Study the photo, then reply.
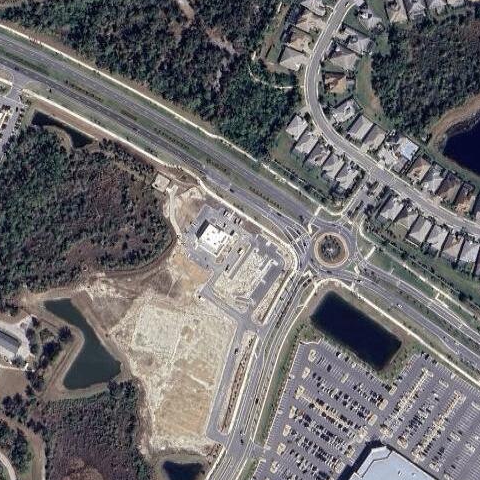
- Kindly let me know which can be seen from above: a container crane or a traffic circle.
traffic circle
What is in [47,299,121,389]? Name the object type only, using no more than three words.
pond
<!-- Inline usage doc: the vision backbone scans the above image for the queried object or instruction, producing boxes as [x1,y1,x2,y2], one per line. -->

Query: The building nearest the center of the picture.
[195,225,234,259]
